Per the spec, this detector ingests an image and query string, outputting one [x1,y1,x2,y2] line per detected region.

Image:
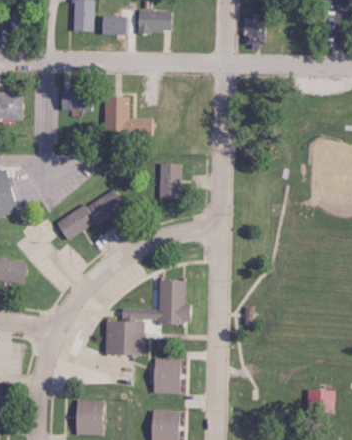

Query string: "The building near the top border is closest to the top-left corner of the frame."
[72,0,95,32]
